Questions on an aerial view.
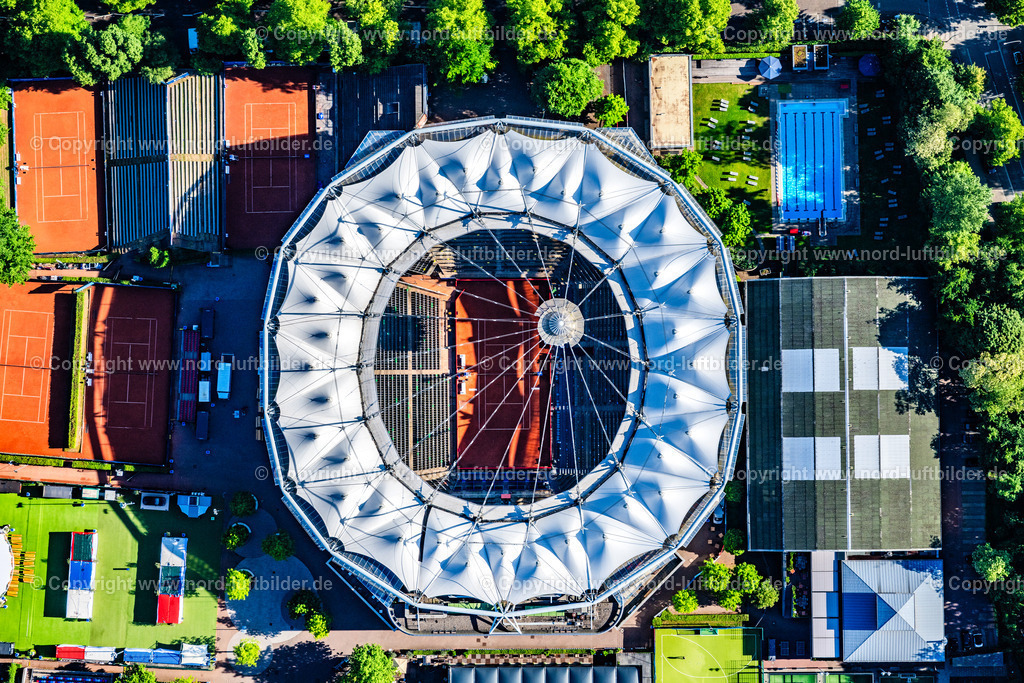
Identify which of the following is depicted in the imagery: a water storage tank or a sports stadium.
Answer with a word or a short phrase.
sports stadium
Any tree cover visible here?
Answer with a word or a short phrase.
Yes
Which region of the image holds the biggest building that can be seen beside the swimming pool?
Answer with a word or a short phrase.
right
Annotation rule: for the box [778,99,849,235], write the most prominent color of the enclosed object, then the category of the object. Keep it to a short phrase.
blue swimming pool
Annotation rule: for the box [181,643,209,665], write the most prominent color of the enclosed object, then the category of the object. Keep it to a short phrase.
white tent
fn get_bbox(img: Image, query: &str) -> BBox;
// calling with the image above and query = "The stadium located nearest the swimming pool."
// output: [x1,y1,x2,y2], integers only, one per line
[257,111,747,635]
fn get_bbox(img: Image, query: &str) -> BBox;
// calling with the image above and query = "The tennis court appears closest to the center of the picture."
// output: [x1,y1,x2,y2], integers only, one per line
[447,277,556,472]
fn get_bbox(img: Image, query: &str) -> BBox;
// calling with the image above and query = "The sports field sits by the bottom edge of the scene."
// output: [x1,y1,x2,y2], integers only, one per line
[654,628,762,683]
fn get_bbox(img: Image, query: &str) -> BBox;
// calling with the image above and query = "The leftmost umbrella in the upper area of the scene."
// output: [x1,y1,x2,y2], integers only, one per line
[758,56,781,79]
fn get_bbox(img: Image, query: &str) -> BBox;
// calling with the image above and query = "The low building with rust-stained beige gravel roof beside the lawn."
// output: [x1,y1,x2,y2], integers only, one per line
[646,55,694,151]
